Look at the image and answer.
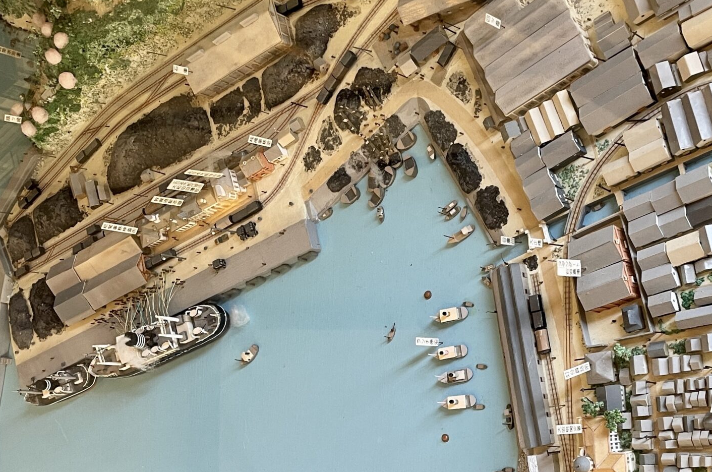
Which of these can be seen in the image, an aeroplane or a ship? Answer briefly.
ship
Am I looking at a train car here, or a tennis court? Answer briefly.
train car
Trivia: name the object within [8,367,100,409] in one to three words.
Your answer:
ship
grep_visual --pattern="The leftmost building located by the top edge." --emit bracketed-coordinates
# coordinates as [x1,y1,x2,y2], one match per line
[184,0,295,99]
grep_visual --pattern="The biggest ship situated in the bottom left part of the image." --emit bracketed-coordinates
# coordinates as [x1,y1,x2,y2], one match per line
[76,301,235,387]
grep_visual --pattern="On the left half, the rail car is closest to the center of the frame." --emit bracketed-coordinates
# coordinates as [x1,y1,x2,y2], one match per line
[229,201,265,223]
